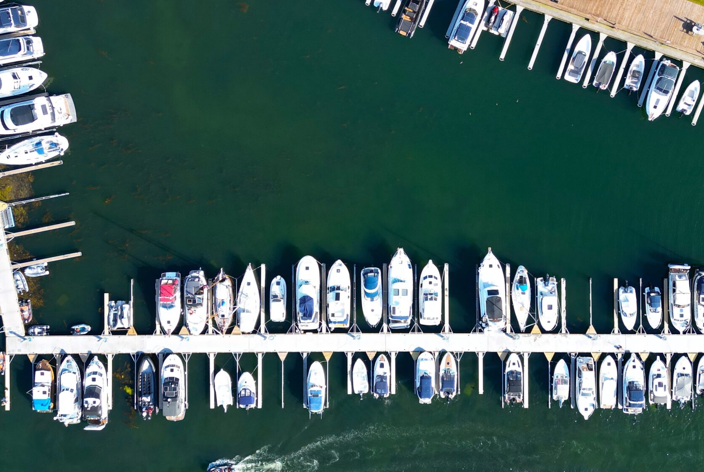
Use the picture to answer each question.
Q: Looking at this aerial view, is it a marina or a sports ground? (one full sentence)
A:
It's a marina.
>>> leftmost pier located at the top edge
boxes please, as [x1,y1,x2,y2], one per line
[484,3,515,39]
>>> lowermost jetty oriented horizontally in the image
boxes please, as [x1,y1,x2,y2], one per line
[6,334,704,354]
